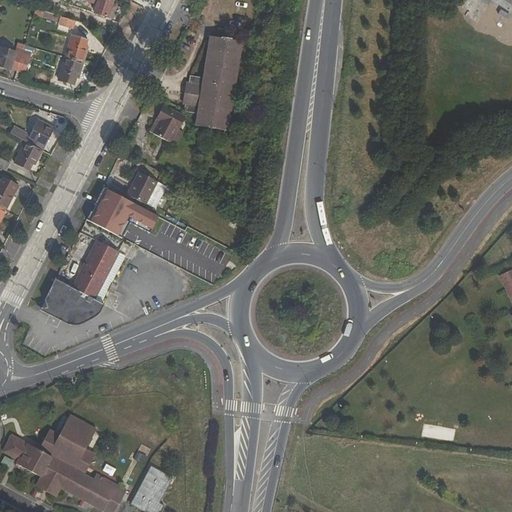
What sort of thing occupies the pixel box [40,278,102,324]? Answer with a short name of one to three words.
building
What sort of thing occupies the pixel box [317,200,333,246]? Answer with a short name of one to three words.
vehicle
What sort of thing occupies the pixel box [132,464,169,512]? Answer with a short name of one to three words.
barn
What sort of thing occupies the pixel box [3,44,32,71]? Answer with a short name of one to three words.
house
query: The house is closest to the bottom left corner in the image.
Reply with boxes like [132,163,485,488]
[0,418,126,512]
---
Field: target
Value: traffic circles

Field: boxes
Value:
[233,247,365,379]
